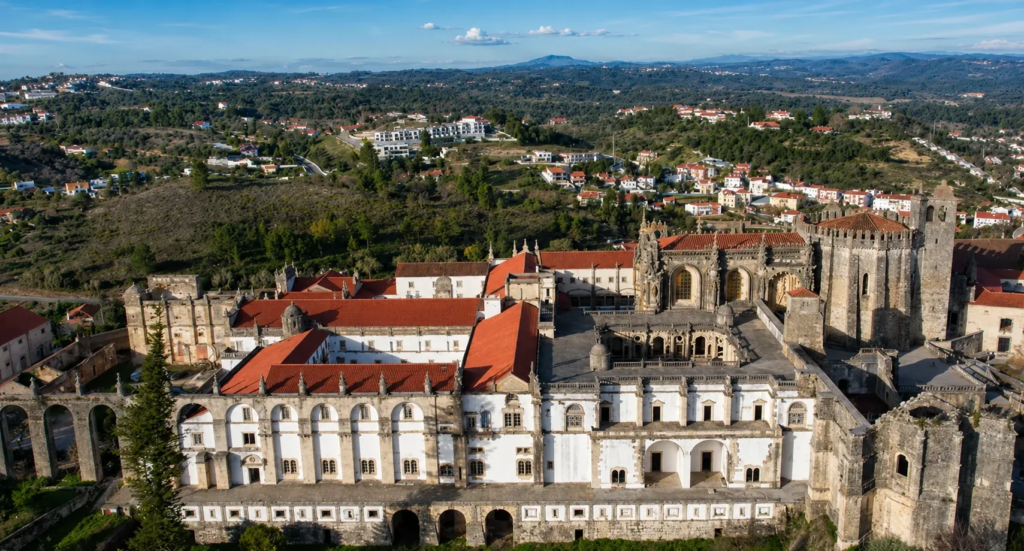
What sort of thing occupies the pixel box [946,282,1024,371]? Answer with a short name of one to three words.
building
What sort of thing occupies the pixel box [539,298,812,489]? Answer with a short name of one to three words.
building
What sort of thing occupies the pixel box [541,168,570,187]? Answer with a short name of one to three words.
house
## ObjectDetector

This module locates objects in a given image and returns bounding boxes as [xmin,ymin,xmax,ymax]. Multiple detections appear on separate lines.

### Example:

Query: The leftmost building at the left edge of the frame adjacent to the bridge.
[0,303,61,384]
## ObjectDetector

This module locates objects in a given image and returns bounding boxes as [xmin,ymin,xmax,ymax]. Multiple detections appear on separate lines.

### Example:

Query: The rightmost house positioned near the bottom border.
[853,388,1024,551]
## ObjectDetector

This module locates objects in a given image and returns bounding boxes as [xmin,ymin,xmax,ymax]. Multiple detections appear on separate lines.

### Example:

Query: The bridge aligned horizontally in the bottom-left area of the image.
[0,366,465,491]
